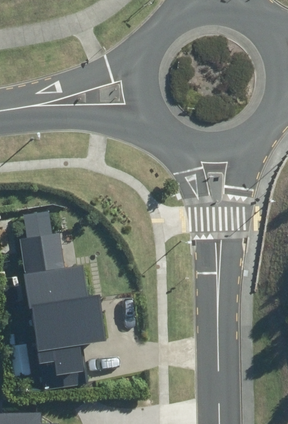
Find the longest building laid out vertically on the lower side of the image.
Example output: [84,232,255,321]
[20,212,106,390]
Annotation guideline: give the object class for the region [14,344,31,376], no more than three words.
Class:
shed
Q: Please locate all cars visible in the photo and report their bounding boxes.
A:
[124,300,136,329]
[88,358,120,372]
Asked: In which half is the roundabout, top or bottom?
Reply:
top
